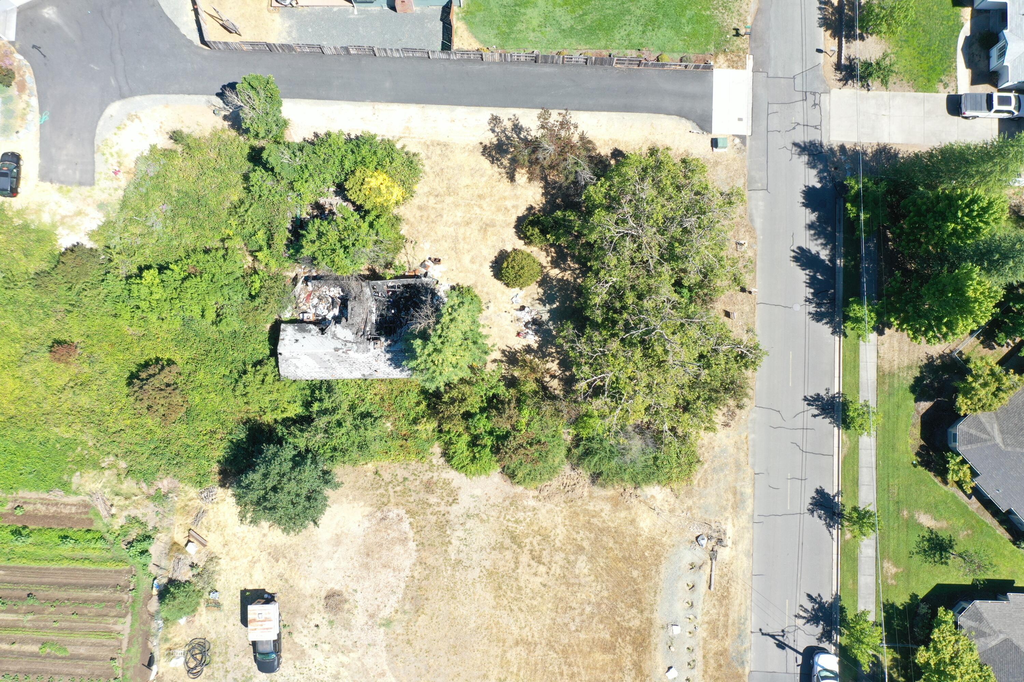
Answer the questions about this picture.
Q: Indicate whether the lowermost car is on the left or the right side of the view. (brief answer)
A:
right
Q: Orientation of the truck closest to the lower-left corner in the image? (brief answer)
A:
up and down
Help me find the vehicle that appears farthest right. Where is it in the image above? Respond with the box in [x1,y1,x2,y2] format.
[960,88,1024,115]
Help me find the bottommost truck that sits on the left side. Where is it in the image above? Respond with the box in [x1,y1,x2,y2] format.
[248,593,283,675]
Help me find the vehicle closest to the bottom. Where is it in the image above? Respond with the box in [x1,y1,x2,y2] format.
[815,653,844,682]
